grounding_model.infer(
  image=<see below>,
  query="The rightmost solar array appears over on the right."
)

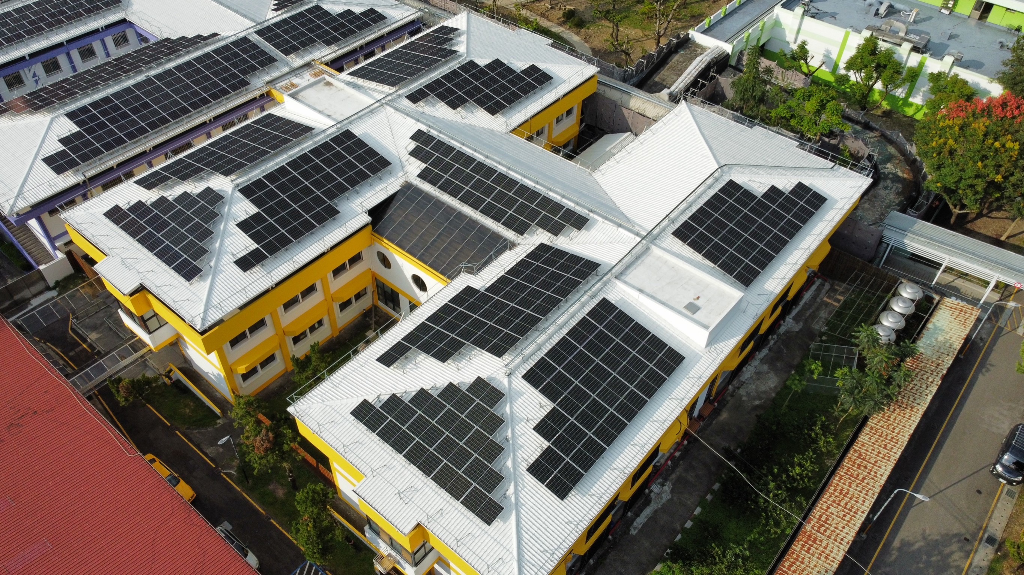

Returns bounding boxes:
[672,179,820,289]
